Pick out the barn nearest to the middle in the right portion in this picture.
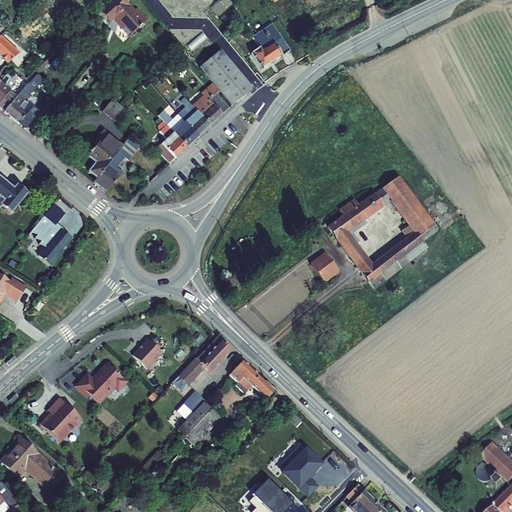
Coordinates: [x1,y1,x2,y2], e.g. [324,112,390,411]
[309,251,340,282]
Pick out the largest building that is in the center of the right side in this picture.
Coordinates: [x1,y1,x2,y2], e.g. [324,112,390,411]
[326,176,439,286]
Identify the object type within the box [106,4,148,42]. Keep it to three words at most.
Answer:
house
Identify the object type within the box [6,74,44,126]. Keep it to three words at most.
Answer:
house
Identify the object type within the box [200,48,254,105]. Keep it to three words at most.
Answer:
building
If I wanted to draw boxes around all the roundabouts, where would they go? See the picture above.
[84,167,242,330]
